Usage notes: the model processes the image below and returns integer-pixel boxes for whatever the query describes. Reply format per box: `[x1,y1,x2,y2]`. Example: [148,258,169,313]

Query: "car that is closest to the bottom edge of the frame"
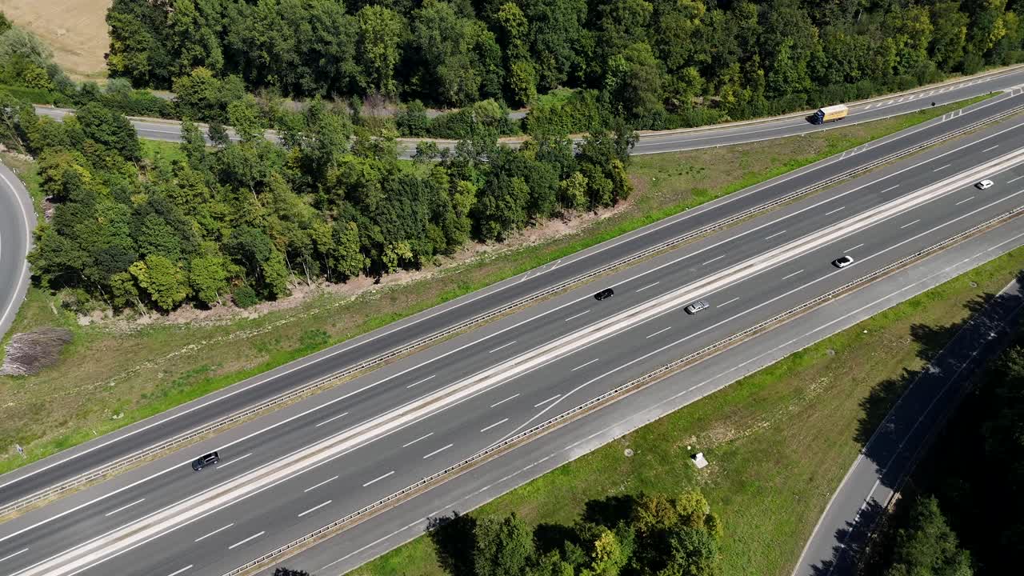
[191,451,219,471]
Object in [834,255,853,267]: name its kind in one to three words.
vehicle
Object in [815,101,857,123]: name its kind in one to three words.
truck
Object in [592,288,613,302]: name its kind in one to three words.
car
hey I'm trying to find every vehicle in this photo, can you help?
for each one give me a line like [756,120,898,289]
[592,288,613,302]
[191,451,219,471]
[815,101,857,123]
[687,298,709,311]
[975,179,992,189]
[834,255,853,267]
